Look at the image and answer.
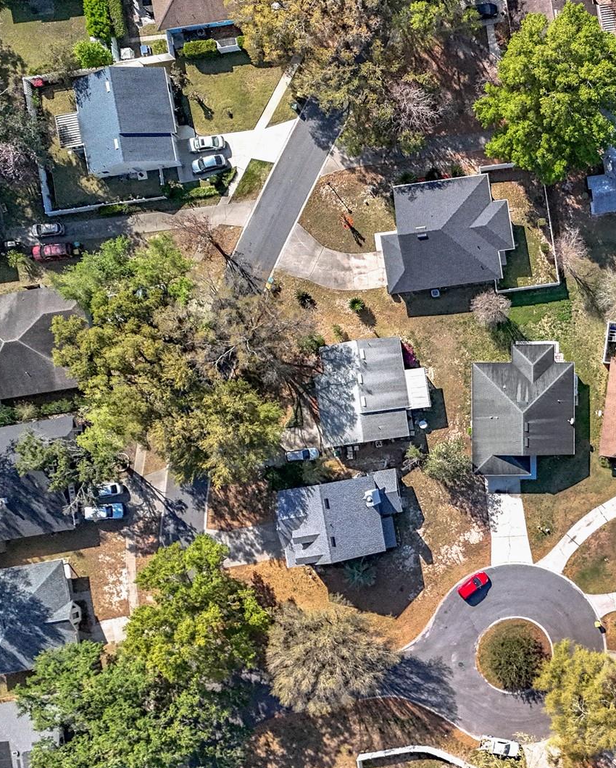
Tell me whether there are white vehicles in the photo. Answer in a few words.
Yes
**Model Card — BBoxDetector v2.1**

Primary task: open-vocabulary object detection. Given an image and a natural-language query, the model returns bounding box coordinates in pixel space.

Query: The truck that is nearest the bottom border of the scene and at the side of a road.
[480,735,522,758]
